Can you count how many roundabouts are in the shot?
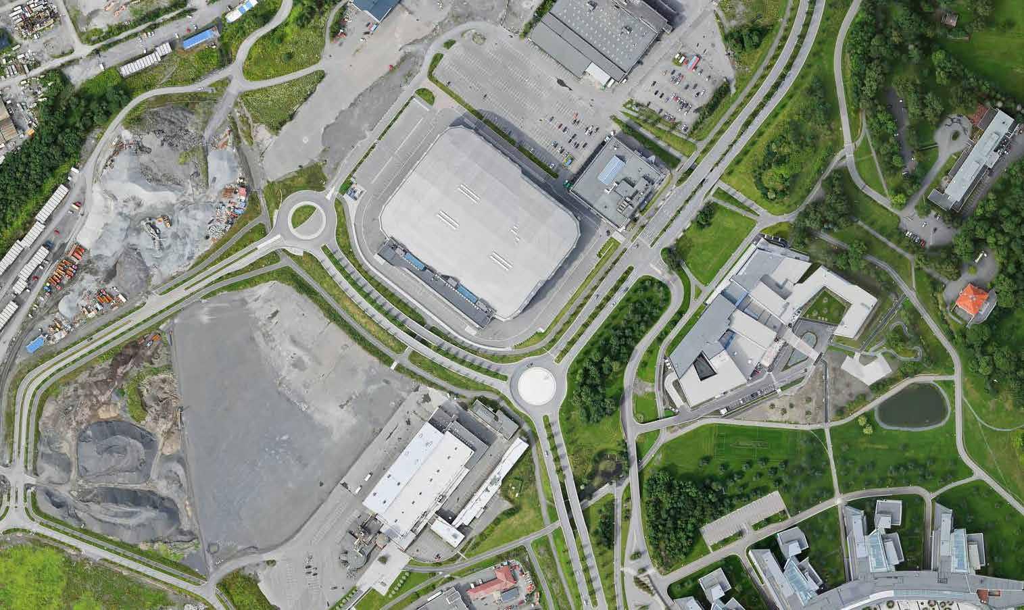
2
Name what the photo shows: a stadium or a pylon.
stadium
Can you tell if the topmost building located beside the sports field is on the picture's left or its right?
right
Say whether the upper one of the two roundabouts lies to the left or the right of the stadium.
left of it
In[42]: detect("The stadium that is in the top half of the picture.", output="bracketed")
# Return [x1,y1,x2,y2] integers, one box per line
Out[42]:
[373,123,582,336]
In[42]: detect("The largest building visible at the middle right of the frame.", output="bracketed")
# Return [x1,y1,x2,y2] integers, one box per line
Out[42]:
[668,238,878,407]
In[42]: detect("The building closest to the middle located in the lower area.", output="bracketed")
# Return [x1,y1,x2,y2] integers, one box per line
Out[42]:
[468,400,519,440]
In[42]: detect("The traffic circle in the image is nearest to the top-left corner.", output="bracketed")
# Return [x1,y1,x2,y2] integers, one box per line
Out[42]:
[278,191,336,249]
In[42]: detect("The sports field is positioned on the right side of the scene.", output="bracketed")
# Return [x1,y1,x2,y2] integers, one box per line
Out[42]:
[713,427,780,466]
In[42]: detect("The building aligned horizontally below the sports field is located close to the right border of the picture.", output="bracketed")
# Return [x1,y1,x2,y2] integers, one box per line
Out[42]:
[672,498,1024,610]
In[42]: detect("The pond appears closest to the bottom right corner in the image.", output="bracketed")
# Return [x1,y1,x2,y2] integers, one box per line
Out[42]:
[874,380,951,431]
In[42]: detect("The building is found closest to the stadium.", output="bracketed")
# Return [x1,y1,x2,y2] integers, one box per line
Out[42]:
[569,134,667,230]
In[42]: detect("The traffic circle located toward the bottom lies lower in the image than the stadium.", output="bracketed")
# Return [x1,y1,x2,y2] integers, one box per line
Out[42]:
[507,356,567,417]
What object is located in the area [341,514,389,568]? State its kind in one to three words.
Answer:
building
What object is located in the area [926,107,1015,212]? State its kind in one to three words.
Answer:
building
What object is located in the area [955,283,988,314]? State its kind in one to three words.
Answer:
house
